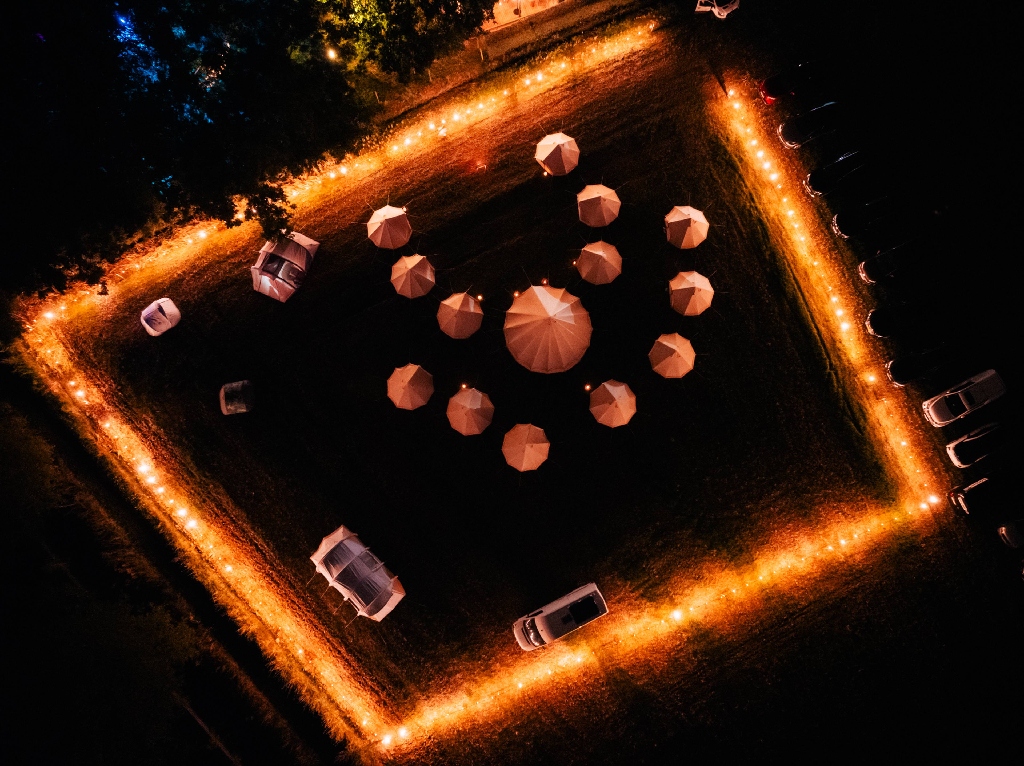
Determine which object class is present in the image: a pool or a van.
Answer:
van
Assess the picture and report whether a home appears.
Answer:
No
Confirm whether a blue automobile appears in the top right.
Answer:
No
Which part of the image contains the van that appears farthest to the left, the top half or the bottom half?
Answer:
bottom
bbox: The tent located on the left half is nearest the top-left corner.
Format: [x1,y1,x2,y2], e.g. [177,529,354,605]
[137,298,182,338]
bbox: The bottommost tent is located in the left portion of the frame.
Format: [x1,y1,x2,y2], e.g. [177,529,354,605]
[306,523,405,626]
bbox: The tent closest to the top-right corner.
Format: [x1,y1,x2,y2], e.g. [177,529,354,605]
[666,202,722,257]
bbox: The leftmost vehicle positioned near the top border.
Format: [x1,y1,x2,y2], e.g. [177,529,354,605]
[697,0,742,20]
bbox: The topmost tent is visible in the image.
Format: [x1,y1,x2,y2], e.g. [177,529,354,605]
[527,124,584,185]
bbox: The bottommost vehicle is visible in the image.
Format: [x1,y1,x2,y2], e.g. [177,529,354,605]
[513,584,612,652]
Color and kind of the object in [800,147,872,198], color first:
black car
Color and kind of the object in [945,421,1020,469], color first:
black car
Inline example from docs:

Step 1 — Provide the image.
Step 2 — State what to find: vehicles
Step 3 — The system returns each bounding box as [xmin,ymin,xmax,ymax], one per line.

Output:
[800,147,872,198]
[697,0,742,20]
[862,289,927,336]
[513,584,612,652]
[942,463,1020,516]
[995,511,1024,550]
[945,421,1020,469]
[853,235,926,285]
[882,336,951,384]
[756,62,818,107]
[772,100,842,148]
[921,372,1006,427]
